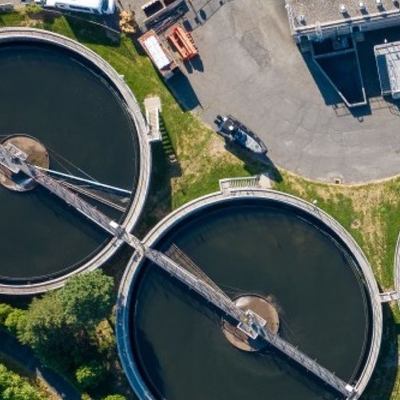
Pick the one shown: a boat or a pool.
boat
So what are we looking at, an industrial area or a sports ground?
industrial area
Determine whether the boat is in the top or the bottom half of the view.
top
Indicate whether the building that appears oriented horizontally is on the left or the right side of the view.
right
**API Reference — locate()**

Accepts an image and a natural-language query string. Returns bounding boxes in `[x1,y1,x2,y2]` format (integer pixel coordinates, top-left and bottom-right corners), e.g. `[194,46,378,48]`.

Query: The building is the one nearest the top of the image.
[286,0,400,51]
